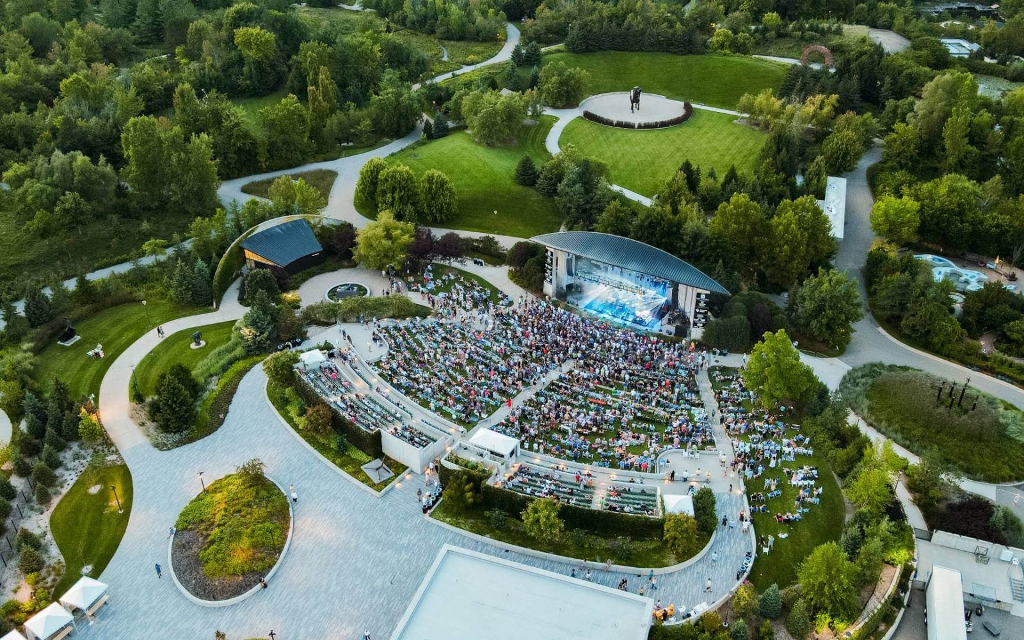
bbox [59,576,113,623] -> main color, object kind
white tent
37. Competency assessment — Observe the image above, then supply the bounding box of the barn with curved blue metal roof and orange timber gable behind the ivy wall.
[241,218,323,286]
